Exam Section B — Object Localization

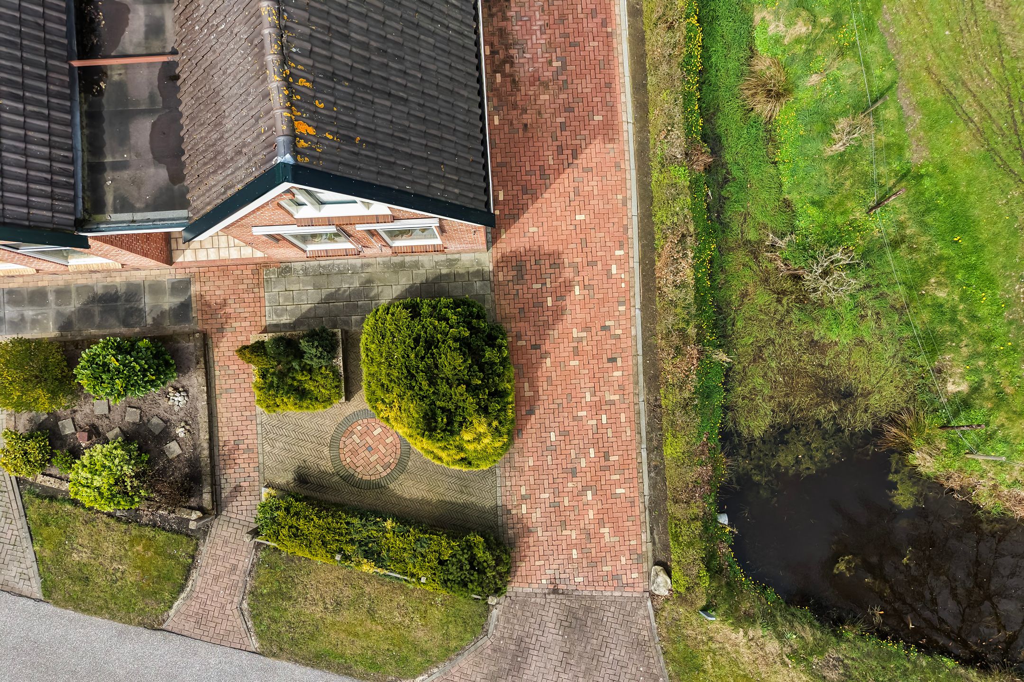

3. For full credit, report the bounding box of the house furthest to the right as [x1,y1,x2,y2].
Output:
[172,0,504,262]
